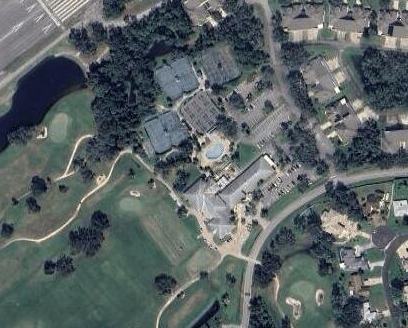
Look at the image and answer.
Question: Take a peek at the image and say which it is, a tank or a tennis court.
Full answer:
This aerial view contains a tennis court.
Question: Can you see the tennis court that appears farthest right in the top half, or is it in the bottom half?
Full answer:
The tennis court that appears farthest right is in the top half of the image.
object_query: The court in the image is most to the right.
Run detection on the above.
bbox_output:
[213,41,245,79]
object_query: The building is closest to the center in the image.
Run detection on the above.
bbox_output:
[183,155,274,235]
